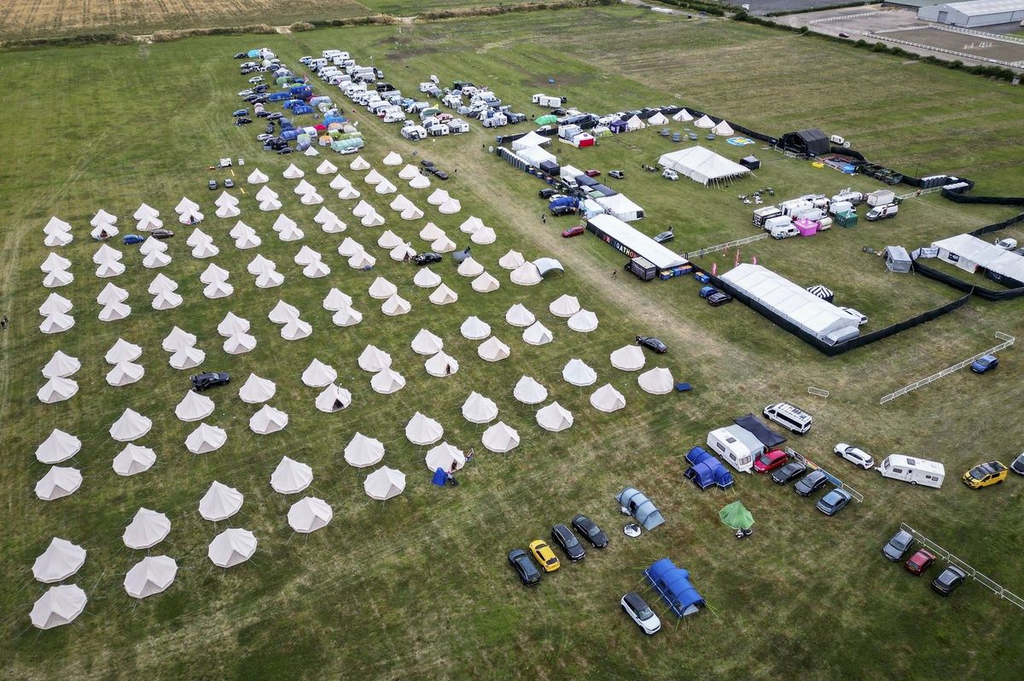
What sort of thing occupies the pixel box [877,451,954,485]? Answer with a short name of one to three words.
camper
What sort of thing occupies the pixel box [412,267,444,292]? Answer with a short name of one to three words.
tent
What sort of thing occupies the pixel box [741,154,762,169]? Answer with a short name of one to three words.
gazebo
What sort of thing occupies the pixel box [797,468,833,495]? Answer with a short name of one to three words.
car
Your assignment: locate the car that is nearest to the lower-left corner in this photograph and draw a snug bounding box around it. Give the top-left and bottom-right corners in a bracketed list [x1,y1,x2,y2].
[191,371,227,389]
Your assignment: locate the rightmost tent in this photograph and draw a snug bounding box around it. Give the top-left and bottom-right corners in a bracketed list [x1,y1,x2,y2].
[935,235,1024,296]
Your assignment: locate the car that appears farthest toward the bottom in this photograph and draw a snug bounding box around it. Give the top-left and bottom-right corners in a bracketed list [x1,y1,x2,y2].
[623,589,665,630]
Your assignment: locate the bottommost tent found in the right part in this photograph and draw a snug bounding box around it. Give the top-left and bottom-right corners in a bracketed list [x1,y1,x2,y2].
[637,557,721,624]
